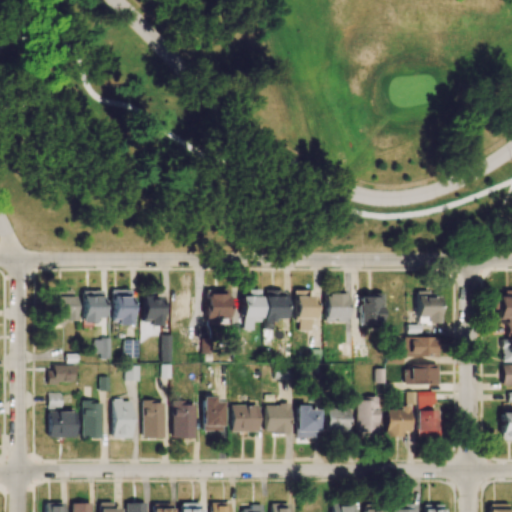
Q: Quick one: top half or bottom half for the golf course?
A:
top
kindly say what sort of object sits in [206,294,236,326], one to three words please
house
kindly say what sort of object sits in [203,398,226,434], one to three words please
house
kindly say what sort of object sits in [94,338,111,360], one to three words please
building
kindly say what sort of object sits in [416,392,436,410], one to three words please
building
